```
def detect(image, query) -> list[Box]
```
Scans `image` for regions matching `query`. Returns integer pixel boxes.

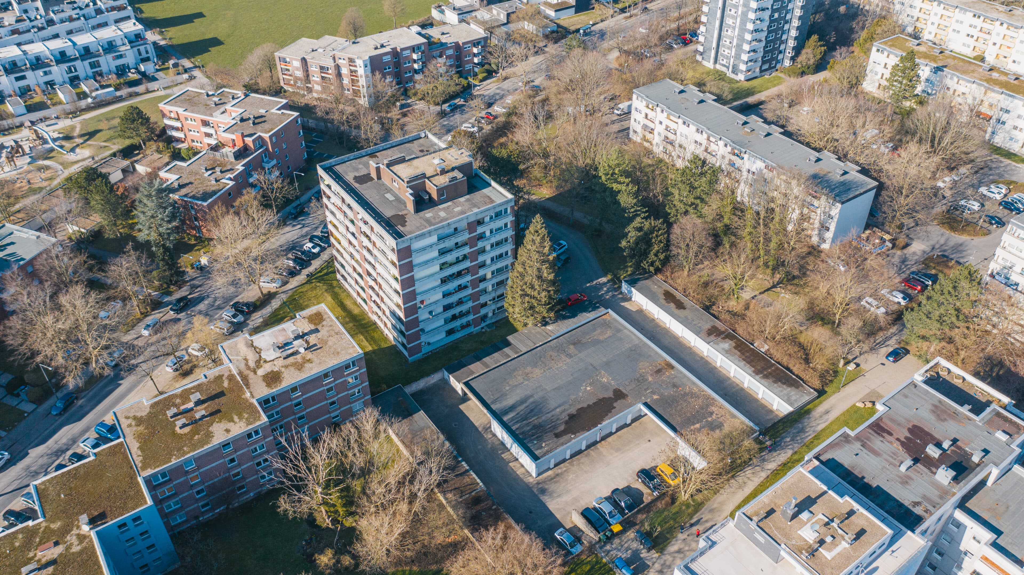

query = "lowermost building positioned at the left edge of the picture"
[0,303,371,575]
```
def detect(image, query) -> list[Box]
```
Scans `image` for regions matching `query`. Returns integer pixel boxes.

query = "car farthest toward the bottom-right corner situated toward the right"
[885,346,909,362]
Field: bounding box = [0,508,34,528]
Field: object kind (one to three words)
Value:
car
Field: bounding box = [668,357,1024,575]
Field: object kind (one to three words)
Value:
building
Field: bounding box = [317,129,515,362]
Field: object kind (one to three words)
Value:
building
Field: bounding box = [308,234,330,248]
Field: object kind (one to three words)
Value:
car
